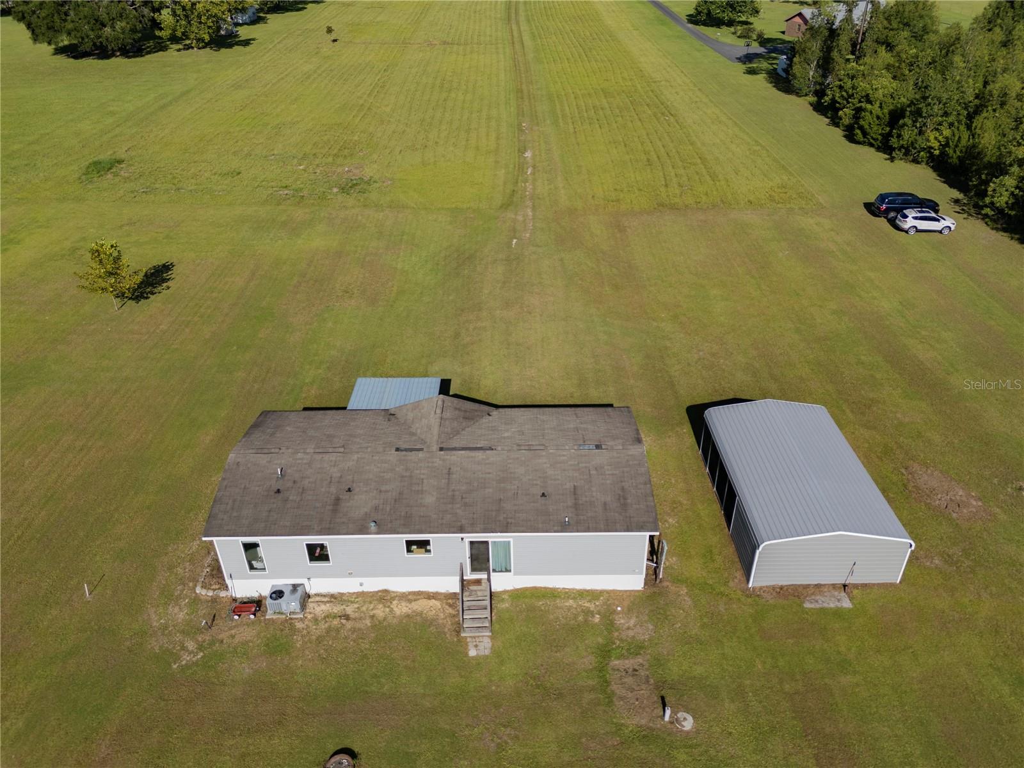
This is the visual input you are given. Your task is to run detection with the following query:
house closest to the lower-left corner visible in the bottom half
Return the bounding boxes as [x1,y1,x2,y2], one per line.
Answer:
[202,394,661,596]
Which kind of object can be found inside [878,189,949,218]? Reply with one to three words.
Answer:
car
